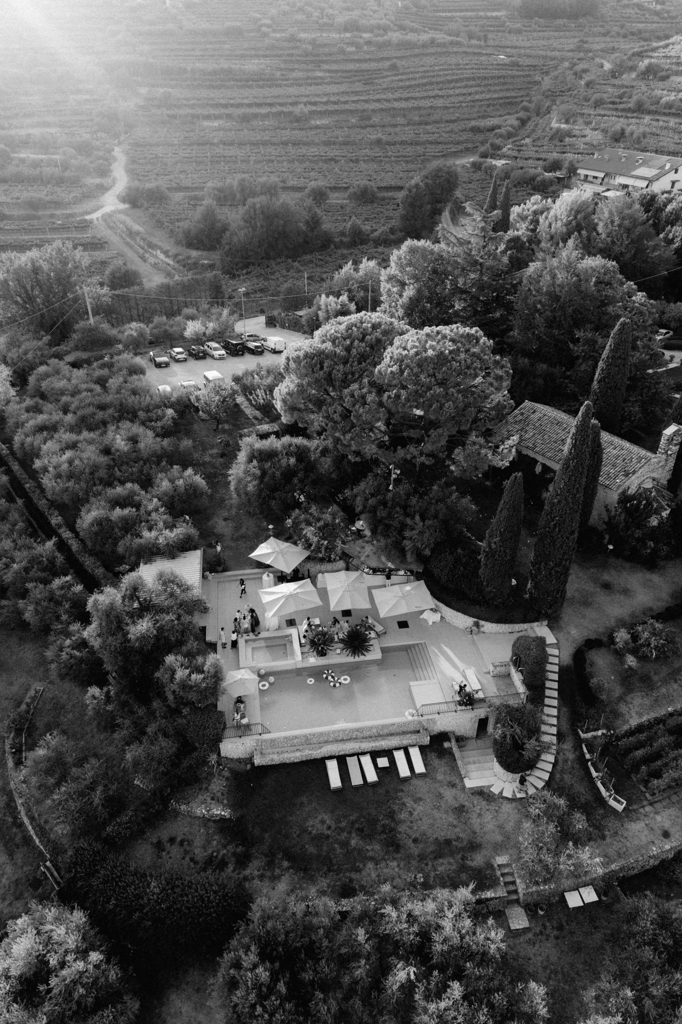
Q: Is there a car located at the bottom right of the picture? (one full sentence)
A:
No, no car can be made out at the bottom right of the picture.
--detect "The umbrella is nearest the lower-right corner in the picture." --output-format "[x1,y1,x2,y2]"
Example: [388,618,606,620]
[370,580,440,629]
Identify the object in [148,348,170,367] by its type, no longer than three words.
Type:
car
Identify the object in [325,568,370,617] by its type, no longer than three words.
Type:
umbrella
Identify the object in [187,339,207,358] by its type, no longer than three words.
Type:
car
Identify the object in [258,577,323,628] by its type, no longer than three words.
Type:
umbrella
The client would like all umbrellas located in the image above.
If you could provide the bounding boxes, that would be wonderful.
[247,536,313,583]
[325,568,370,617]
[258,577,323,628]
[220,659,260,703]
[370,580,440,629]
